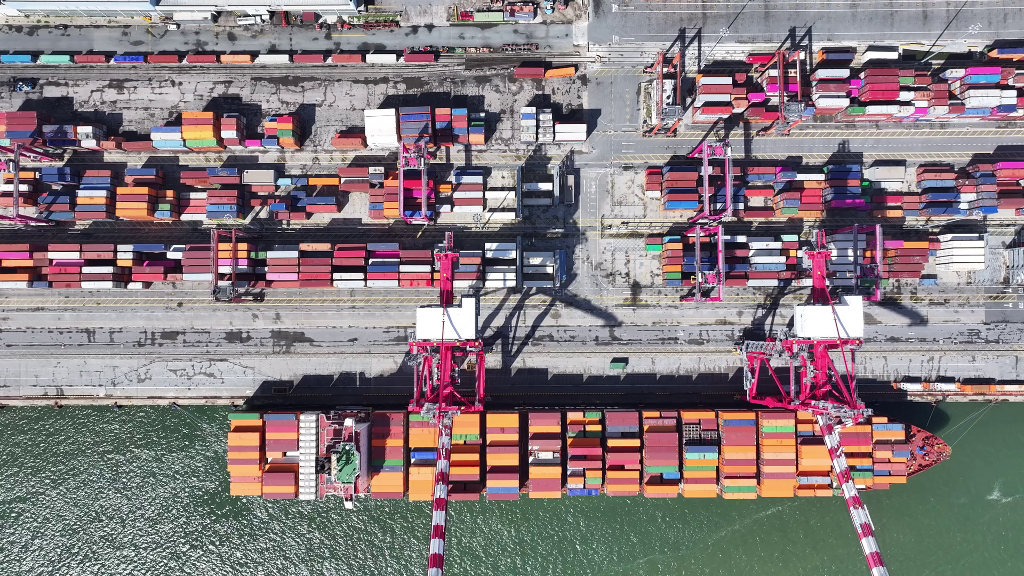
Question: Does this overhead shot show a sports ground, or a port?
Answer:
port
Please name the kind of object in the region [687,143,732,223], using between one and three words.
container crane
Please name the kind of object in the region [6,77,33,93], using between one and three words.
work vehicle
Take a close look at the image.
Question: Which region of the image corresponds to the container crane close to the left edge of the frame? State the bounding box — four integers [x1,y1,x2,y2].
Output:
[0,146,57,223]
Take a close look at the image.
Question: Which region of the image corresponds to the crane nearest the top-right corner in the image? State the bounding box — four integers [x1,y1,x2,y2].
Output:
[756,53,806,136]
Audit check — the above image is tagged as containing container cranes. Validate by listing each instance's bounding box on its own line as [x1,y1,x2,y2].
[211,230,260,303]
[680,229,723,302]
[644,52,686,136]
[827,229,881,302]
[733,230,887,576]
[407,229,490,576]
[0,146,57,223]
[399,148,435,224]
[687,143,732,223]
[756,53,806,136]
